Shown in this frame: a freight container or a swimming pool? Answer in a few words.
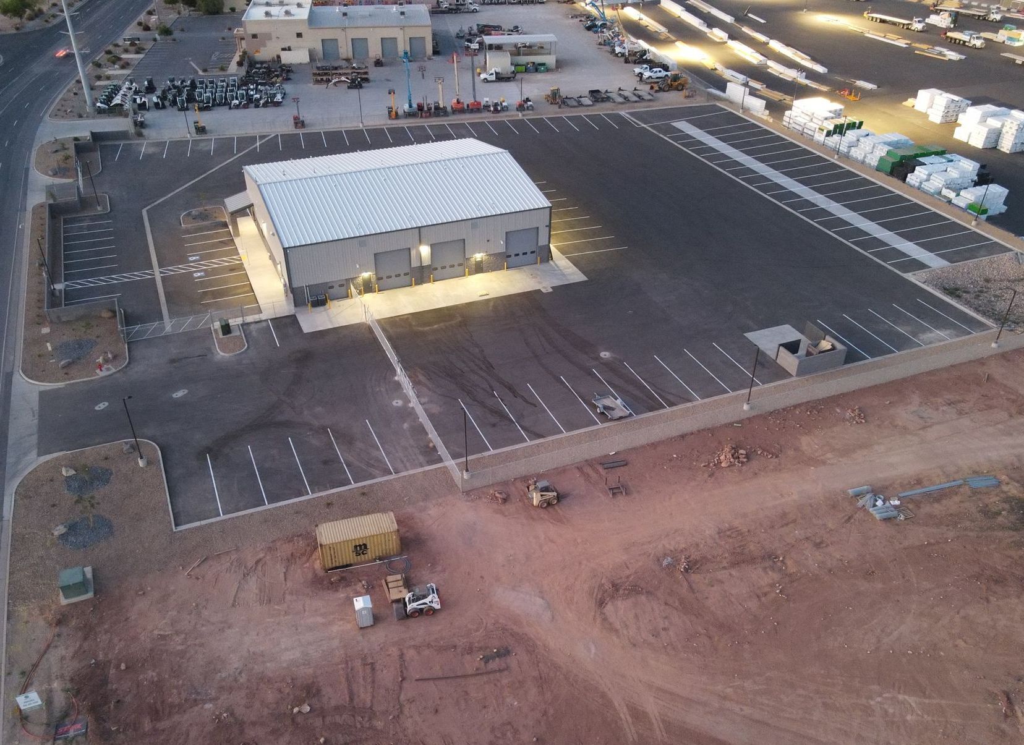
freight container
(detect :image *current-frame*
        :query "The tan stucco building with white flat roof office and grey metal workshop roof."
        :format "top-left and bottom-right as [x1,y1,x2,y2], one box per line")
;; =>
[235,0,432,61]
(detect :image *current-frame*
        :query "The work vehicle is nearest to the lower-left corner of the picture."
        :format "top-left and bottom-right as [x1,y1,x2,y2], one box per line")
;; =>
[392,577,446,620]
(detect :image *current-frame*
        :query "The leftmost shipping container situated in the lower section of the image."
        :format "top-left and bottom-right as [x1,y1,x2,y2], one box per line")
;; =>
[314,507,403,569]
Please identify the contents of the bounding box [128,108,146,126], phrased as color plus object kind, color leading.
gray work vehicle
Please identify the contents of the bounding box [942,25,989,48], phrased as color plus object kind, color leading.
white truck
